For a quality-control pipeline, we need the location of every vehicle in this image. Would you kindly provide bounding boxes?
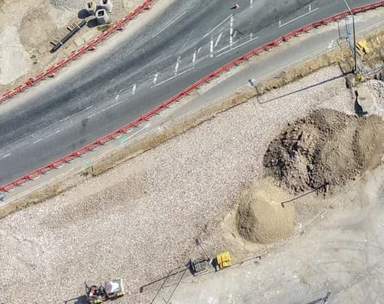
[197,247,232,275]
[86,277,122,304]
